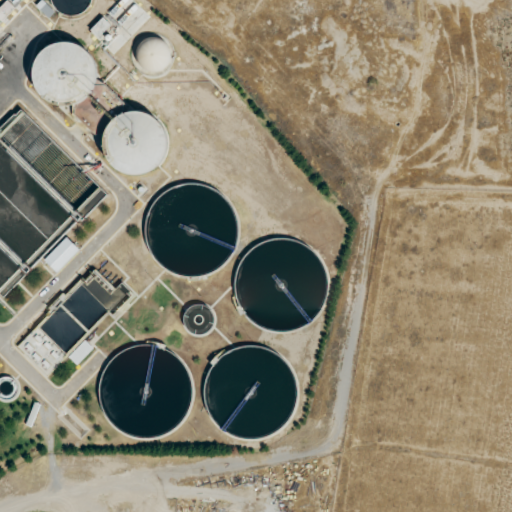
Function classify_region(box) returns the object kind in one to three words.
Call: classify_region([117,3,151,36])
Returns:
building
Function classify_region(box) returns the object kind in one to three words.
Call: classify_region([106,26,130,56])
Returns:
building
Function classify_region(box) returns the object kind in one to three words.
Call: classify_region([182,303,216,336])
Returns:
storage tank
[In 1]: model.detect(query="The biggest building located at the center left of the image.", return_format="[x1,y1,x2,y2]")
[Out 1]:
[45,237,80,272]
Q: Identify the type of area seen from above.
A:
industrial area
